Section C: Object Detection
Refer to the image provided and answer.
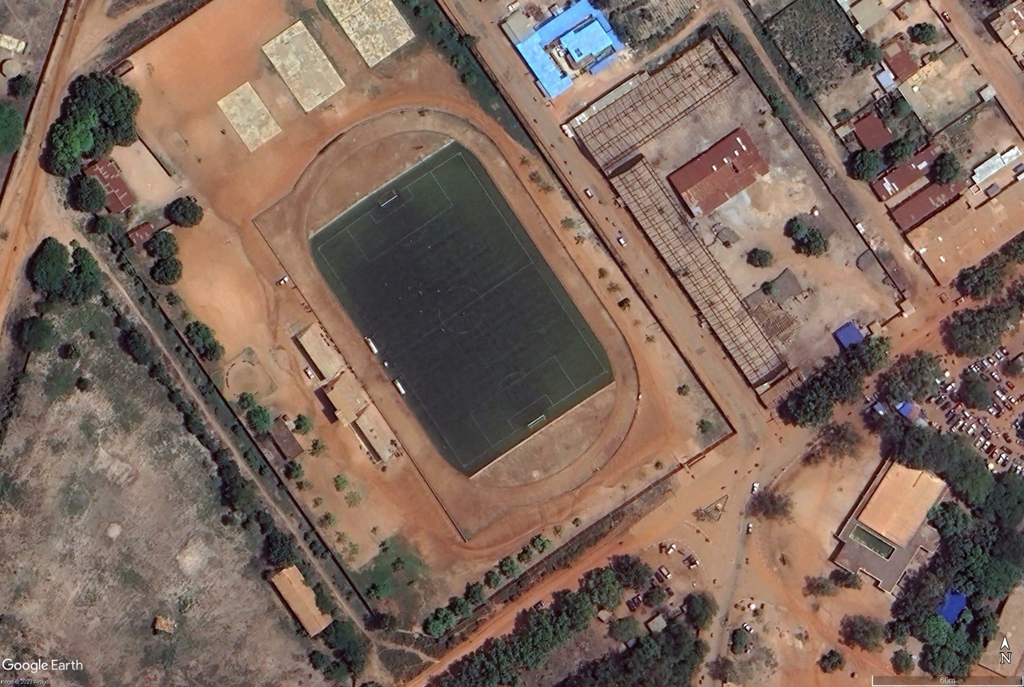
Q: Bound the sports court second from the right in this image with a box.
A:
[261,20,345,111]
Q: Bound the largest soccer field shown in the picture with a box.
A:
[309,140,615,479]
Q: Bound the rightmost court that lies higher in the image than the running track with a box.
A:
[324,0,415,67]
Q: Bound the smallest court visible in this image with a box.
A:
[217,82,282,151]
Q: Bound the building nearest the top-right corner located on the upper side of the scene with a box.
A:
[989,2,1024,46]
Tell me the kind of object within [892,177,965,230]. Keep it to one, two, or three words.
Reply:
house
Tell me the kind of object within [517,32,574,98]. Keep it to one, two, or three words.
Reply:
building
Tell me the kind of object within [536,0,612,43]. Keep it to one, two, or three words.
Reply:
building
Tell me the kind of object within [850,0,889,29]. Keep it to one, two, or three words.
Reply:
house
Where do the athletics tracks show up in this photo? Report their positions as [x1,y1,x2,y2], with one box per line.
[254,109,639,541]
